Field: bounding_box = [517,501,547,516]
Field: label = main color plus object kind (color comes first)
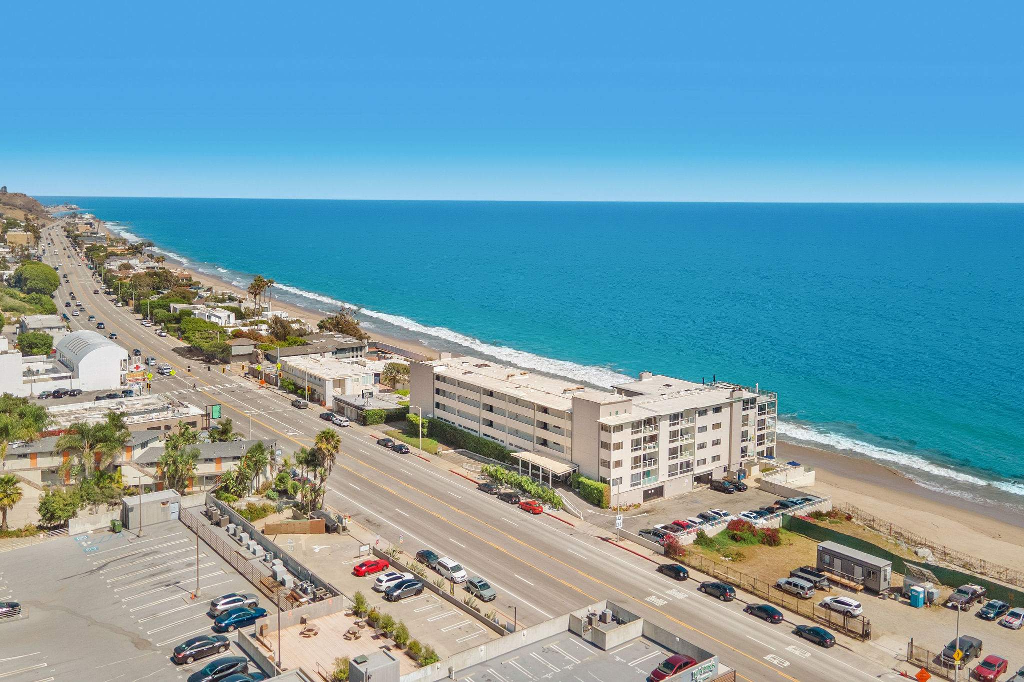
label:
red car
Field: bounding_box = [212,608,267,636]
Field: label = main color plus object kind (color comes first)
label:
blue car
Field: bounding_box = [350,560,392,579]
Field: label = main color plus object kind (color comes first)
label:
red car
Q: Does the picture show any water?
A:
Yes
